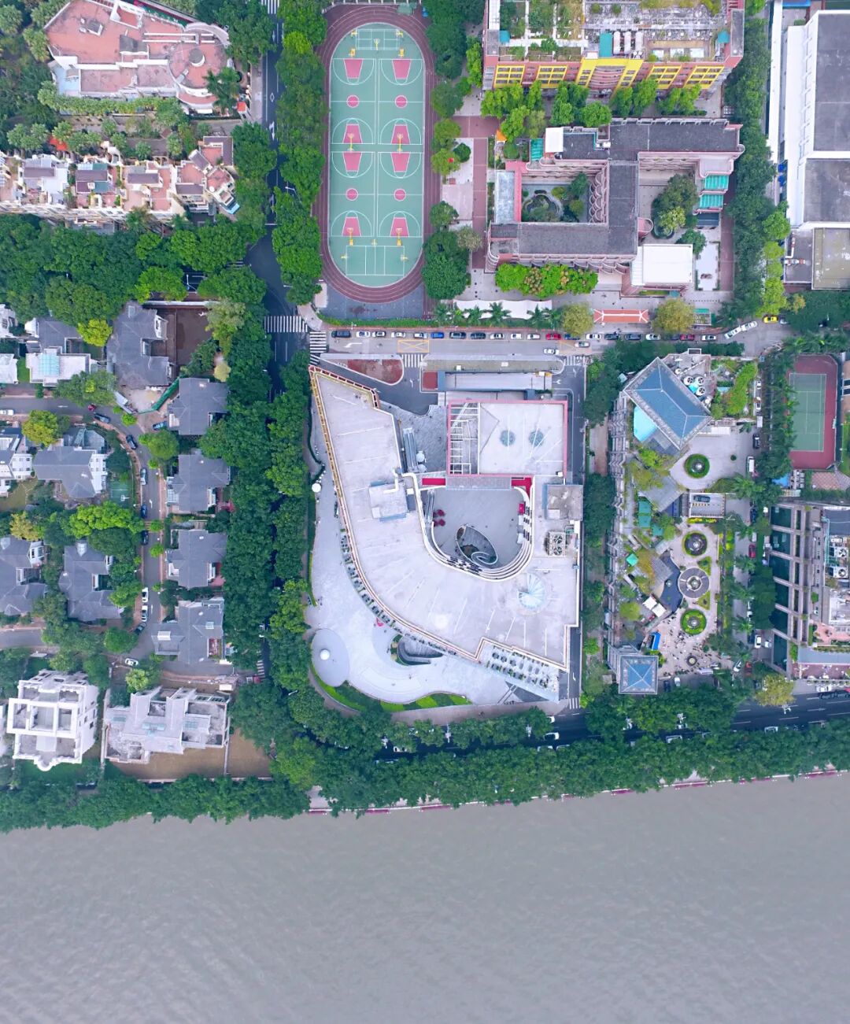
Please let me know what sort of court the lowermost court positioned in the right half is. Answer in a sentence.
The lowermost court positioned in the right half in the image is a tennis court.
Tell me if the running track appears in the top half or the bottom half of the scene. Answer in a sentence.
The top half of the photo is where the running track is.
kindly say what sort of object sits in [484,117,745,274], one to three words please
building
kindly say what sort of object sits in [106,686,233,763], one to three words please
house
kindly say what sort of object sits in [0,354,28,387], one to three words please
house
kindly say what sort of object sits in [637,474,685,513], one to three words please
building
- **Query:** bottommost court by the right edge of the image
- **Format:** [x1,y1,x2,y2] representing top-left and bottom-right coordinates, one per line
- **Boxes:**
[786,354,838,469]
